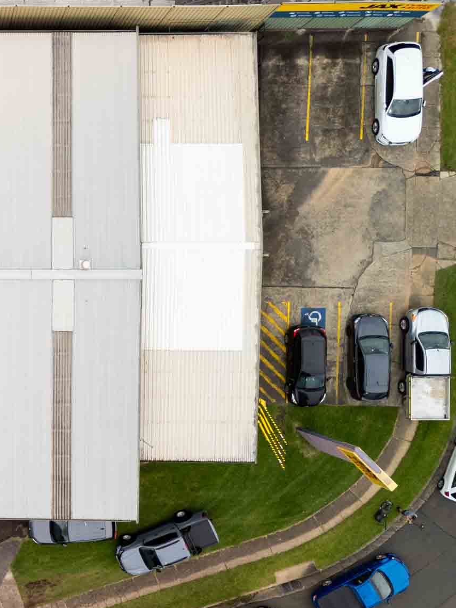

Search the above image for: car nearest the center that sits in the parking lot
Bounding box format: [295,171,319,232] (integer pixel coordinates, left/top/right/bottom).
[281,325,330,405]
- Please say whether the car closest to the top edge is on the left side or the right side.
right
